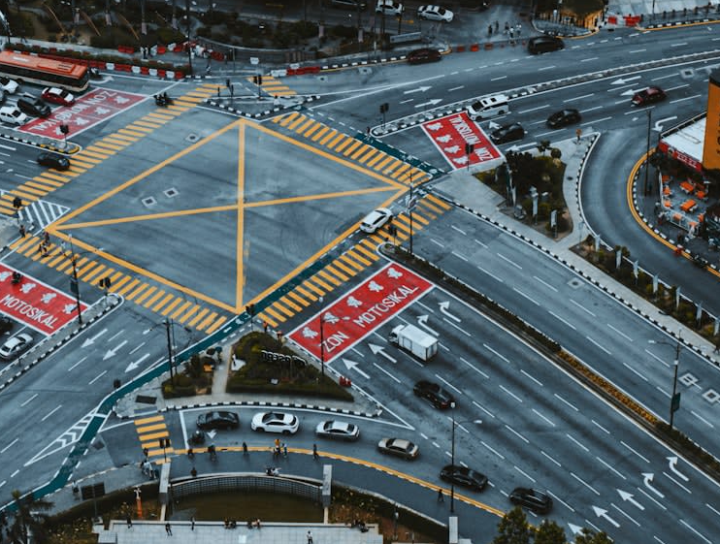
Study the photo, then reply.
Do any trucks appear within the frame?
Yes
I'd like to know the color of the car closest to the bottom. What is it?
black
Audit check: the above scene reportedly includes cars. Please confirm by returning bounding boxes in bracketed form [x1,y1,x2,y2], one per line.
[504,487,557,518]
[14,93,55,118]
[467,92,510,118]
[0,91,9,104]
[438,466,491,493]
[0,333,36,363]
[373,437,425,463]
[313,419,364,444]
[0,317,15,338]
[628,89,670,108]
[195,411,243,432]
[0,106,30,126]
[357,209,394,236]
[0,76,19,94]
[544,110,586,131]
[527,36,566,56]
[404,48,445,66]
[489,124,527,144]
[38,89,78,107]
[35,153,72,173]
[415,7,455,24]
[250,411,299,435]
[412,382,457,412]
